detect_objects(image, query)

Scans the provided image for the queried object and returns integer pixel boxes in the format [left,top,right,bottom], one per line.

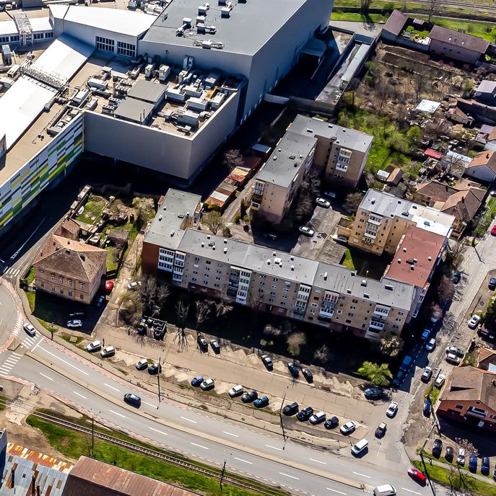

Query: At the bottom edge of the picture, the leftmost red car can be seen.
[407,470,429,485]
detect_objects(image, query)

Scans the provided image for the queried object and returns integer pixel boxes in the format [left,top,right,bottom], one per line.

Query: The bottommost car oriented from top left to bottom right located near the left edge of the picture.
[22,322,38,337]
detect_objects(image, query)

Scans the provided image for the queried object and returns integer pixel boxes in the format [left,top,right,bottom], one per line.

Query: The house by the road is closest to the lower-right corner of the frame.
[433,371,496,435]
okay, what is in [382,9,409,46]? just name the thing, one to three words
shed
